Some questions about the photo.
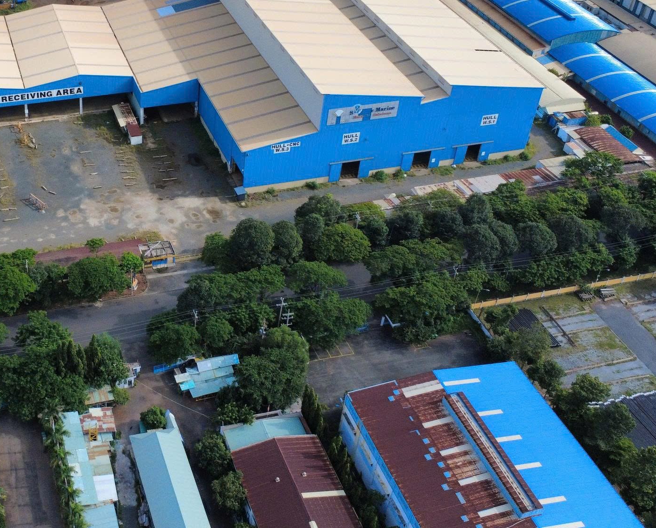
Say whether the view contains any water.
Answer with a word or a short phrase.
No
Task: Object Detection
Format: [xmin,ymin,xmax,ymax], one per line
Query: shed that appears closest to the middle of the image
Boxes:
[373,196,401,216]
